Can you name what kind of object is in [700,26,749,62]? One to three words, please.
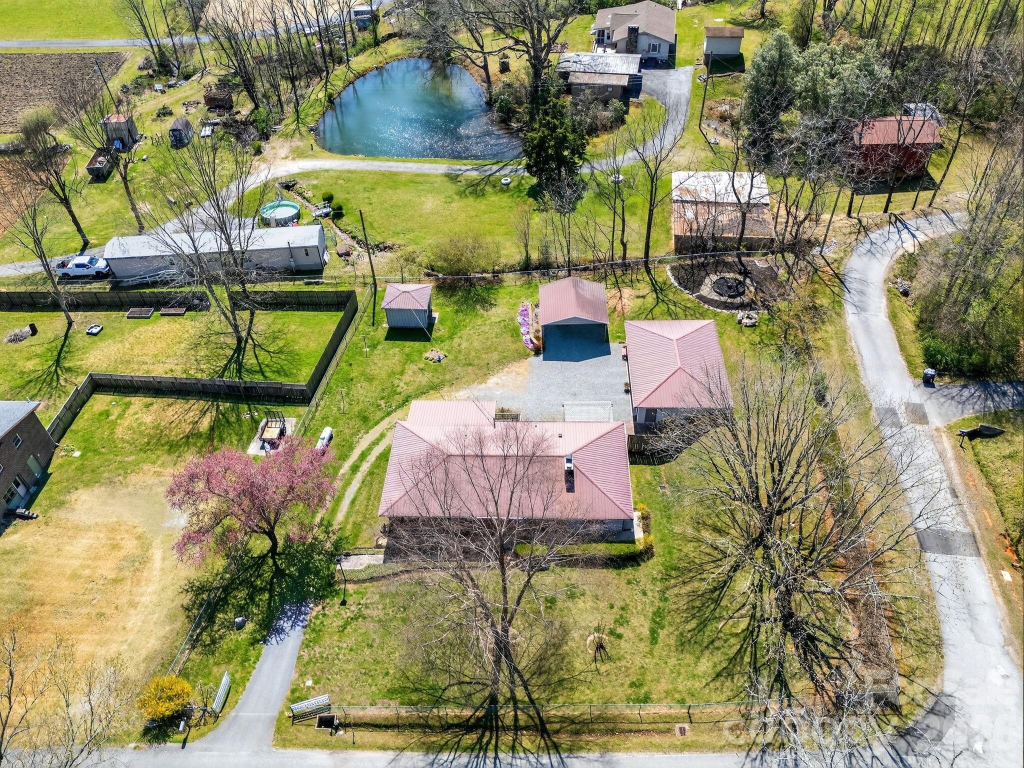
shed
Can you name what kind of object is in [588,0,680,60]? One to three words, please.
house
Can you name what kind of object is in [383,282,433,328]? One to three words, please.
shed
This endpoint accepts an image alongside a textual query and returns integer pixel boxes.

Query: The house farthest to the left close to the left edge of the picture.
[0,399,59,533]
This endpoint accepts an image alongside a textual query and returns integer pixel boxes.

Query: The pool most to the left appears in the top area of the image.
[259,194,303,226]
